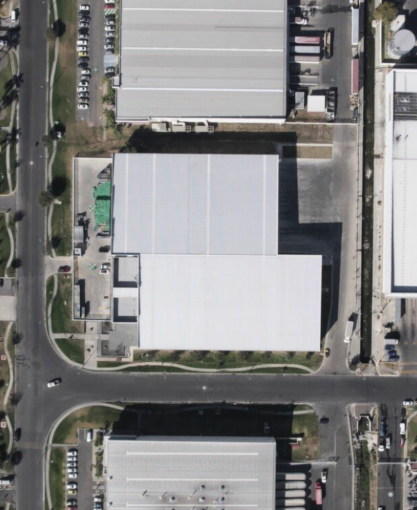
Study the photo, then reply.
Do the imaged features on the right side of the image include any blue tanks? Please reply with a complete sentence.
No, the scene shows no blue tank on the right side of the image.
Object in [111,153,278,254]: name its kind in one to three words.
building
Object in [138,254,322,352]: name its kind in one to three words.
building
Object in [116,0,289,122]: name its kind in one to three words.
warehouse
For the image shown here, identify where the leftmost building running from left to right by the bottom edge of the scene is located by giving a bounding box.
[106,433,276,510]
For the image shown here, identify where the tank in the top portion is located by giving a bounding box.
[385,27,417,60]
